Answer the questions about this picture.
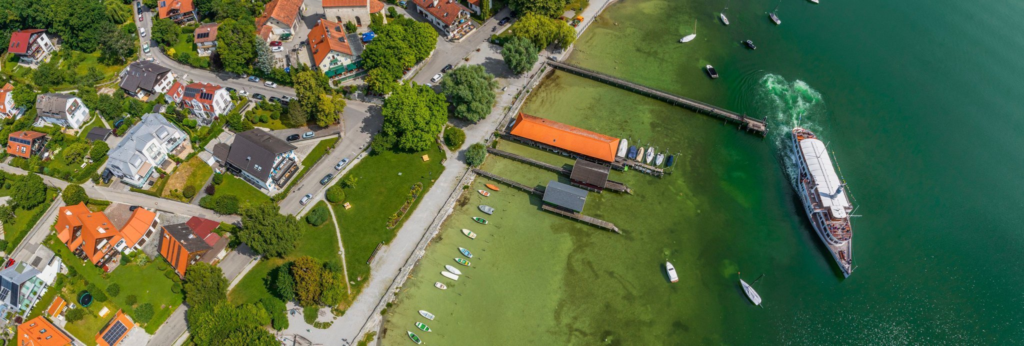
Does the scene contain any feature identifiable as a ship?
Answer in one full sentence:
Yes, I can see a ship in this picture.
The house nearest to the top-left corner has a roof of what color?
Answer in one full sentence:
From above, the roof of the house nearest to the top-left corner looks red.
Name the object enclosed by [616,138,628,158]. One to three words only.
boat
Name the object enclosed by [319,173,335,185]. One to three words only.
vehicle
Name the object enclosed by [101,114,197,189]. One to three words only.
house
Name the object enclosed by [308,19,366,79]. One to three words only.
building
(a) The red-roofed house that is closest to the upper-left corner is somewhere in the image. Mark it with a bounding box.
[5,28,53,65]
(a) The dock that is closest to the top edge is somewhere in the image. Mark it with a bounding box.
[546,57,743,123]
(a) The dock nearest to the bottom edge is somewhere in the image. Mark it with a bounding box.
[541,204,621,233]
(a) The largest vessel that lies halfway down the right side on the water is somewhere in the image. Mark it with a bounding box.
[789,118,856,278]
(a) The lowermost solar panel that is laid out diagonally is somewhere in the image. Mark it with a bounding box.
[99,319,133,346]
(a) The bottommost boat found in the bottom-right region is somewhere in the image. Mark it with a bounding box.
[740,274,762,306]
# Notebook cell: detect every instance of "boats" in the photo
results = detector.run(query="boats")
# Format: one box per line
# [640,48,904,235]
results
[458,226,477,240]
[445,264,463,275]
[637,147,644,162]
[667,155,674,167]
[646,146,656,164]
[415,321,432,332]
[627,145,637,160]
[406,330,422,345]
[478,205,495,215]
[483,183,500,192]
[435,269,459,282]
[459,247,474,259]
[449,256,471,267]
[769,0,783,25]
[656,151,664,166]
[679,19,696,43]
[720,1,731,26]
[435,282,448,291]
[666,261,679,284]
[740,274,762,306]
[706,65,720,80]
[743,39,757,51]
[616,138,628,158]
[471,216,488,225]
[419,310,435,321]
